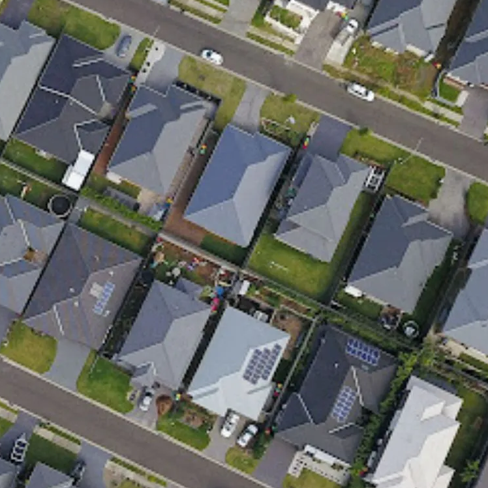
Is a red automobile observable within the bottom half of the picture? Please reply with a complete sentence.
No, no red automobile can be made out within the bottom half of the picture.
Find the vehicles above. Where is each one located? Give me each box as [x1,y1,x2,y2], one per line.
[221,411,240,438]
[240,425,259,448]
[201,48,225,65]
[337,18,361,46]
[140,386,156,412]
[72,458,89,482]
[348,82,375,101]
[116,33,135,58]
